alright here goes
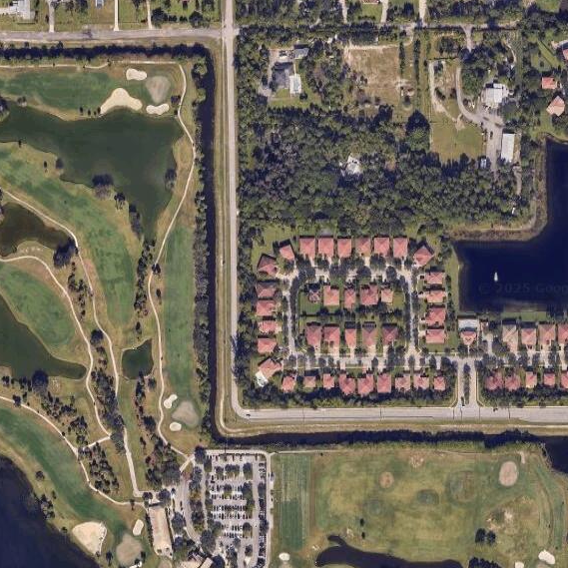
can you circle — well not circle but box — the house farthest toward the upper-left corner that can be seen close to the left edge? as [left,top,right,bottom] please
[11,0,30,19]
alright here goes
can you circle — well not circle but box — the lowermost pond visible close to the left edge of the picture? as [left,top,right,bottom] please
[0,297,87,379]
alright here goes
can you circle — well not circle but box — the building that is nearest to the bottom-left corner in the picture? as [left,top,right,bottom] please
[148,506,172,558]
